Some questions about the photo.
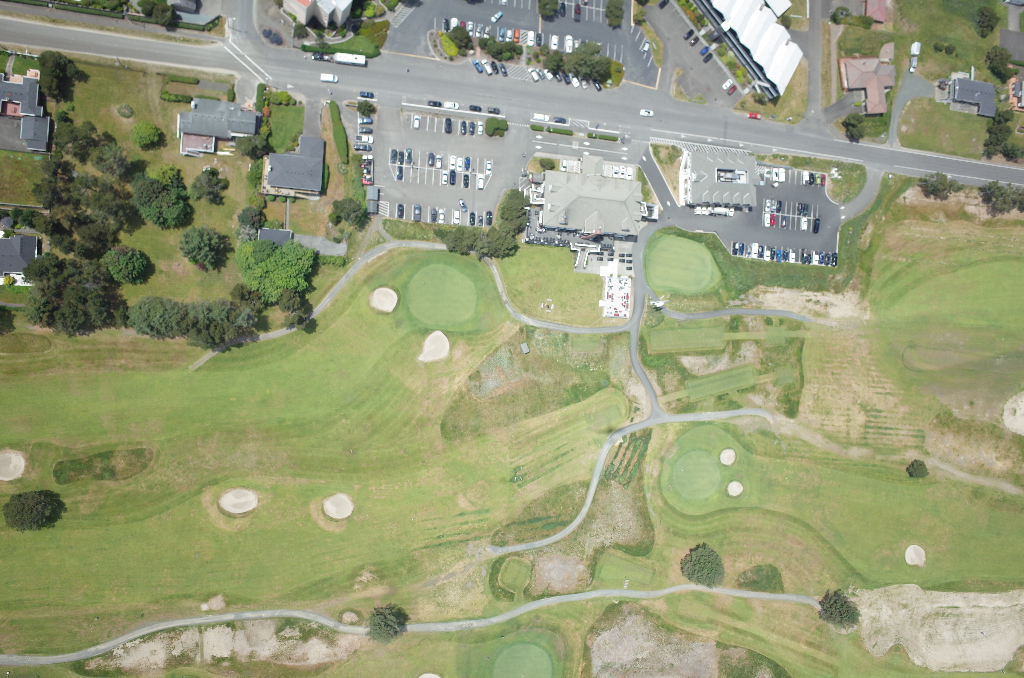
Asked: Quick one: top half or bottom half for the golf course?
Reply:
bottom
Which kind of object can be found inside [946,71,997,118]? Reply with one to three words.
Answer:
house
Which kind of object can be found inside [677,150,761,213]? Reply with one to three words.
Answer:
building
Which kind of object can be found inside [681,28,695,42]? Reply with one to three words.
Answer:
car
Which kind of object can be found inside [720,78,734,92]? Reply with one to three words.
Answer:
car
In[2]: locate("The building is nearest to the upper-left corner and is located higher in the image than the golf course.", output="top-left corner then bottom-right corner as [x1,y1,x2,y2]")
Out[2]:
[0,73,47,116]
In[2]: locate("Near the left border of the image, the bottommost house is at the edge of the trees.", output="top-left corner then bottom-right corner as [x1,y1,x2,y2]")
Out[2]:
[0,235,42,277]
